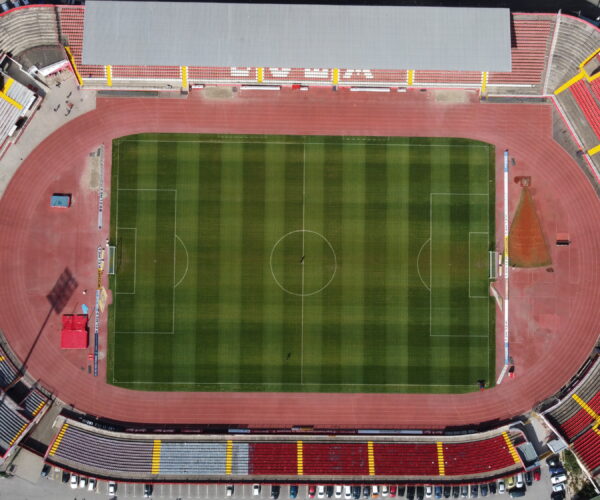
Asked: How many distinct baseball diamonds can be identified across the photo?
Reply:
none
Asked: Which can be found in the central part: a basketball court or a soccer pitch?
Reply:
soccer pitch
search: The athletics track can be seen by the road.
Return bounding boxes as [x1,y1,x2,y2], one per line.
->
[0,87,600,429]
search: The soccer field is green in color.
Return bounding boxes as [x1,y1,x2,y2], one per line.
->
[107,132,496,394]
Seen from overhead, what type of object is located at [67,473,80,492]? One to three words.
vehicle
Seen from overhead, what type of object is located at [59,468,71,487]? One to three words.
vehicle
